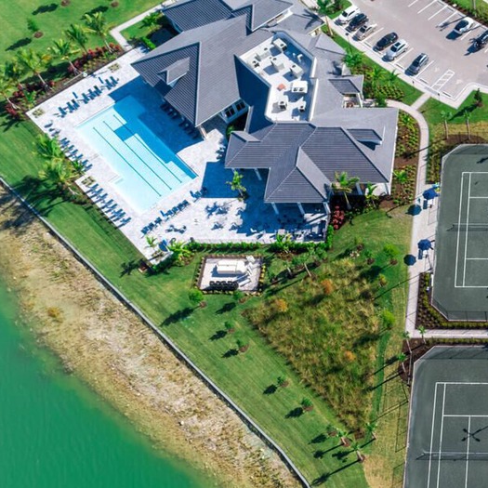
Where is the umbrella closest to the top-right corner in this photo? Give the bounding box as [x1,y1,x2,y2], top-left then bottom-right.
[423,189,437,204]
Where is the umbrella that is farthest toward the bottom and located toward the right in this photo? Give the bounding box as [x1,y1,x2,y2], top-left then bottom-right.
[417,239,432,254]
